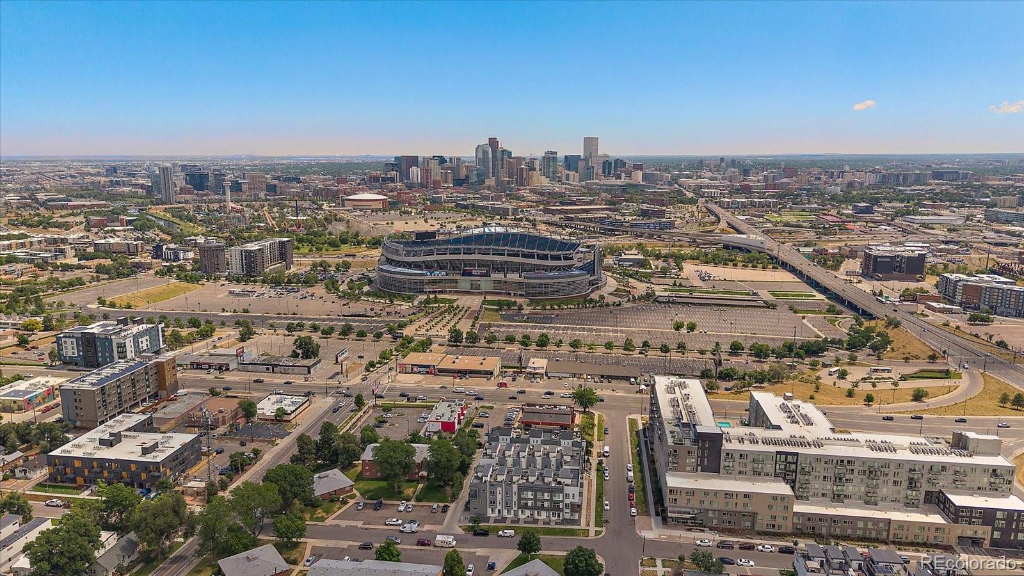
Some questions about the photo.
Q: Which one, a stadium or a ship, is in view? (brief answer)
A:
stadium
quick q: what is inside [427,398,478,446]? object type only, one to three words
building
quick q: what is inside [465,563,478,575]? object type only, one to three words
vehicle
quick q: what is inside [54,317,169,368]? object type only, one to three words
building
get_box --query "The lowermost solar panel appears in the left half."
[63,367,135,388]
